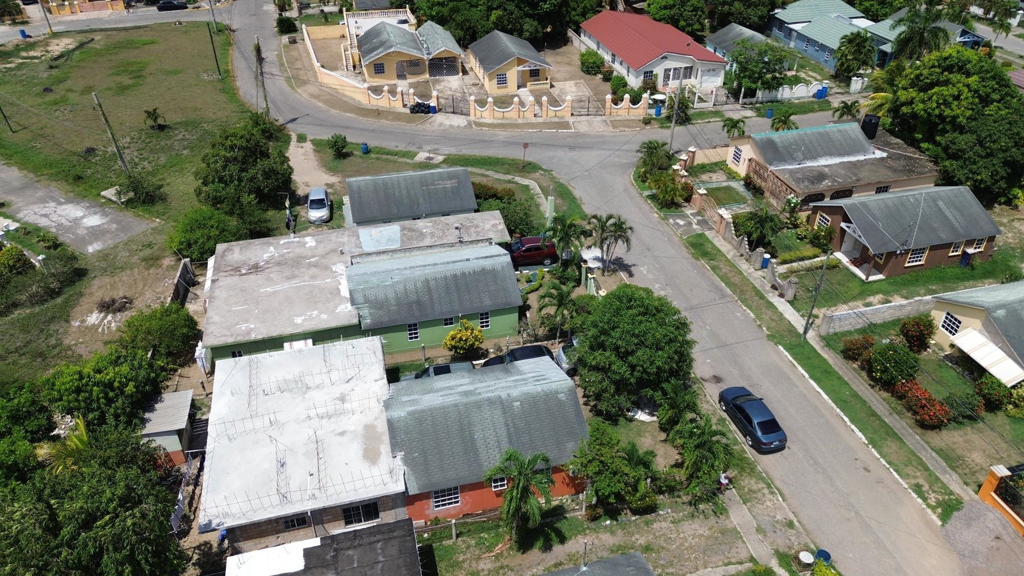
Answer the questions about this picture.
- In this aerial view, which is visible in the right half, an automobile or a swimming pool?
automobile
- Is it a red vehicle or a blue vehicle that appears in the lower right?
blue vehicle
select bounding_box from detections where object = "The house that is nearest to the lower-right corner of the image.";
[930,281,1024,394]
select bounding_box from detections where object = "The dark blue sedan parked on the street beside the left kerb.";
[720,389,789,453]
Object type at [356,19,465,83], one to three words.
house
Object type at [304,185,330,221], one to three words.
car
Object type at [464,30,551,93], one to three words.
house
